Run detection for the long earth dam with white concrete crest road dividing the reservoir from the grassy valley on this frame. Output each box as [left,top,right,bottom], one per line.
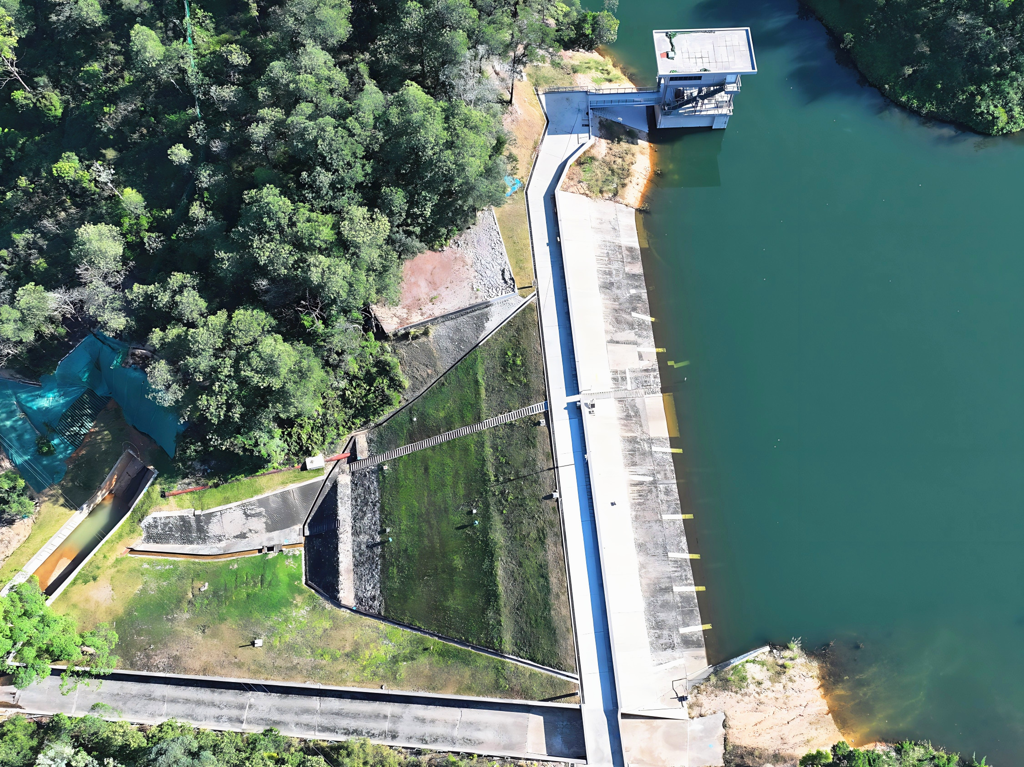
[304,88,728,767]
